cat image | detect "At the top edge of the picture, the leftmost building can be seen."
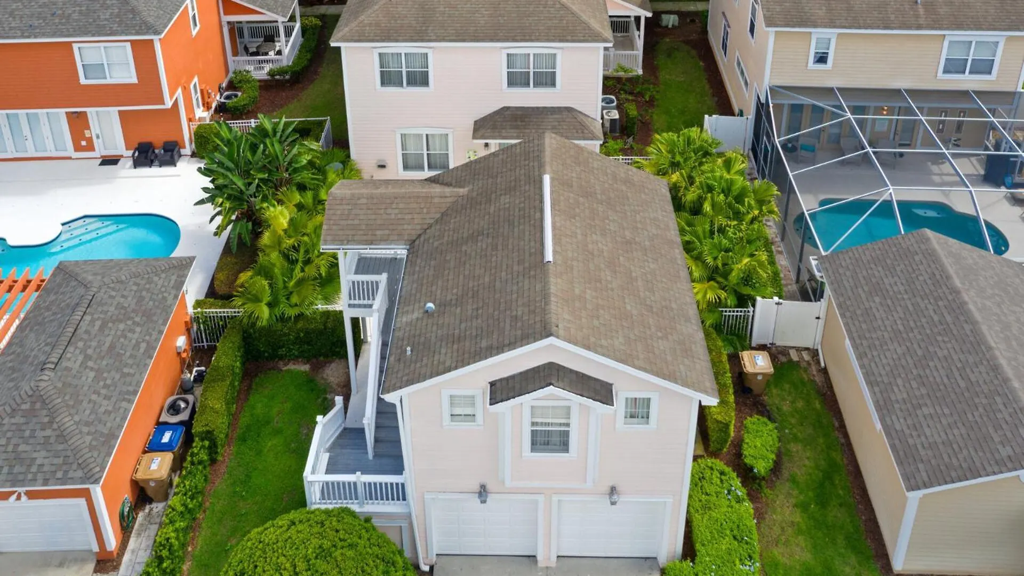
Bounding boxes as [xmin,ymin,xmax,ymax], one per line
[0,0,304,162]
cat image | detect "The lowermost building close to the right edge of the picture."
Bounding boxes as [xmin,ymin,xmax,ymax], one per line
[817,229,1024,576]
